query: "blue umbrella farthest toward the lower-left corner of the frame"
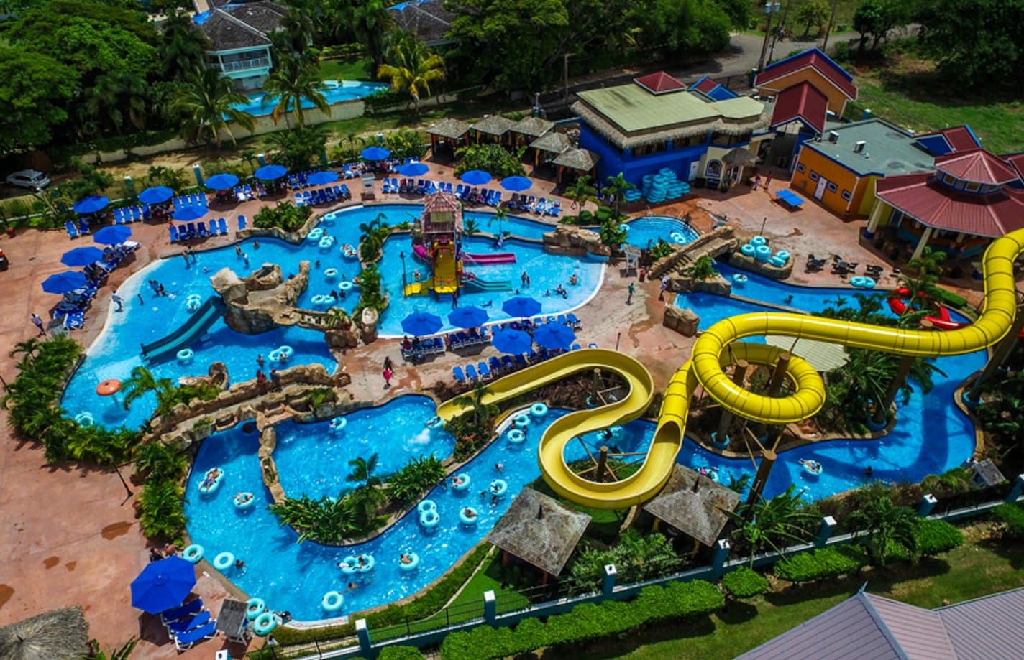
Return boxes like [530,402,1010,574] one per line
[127,563,197,622]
